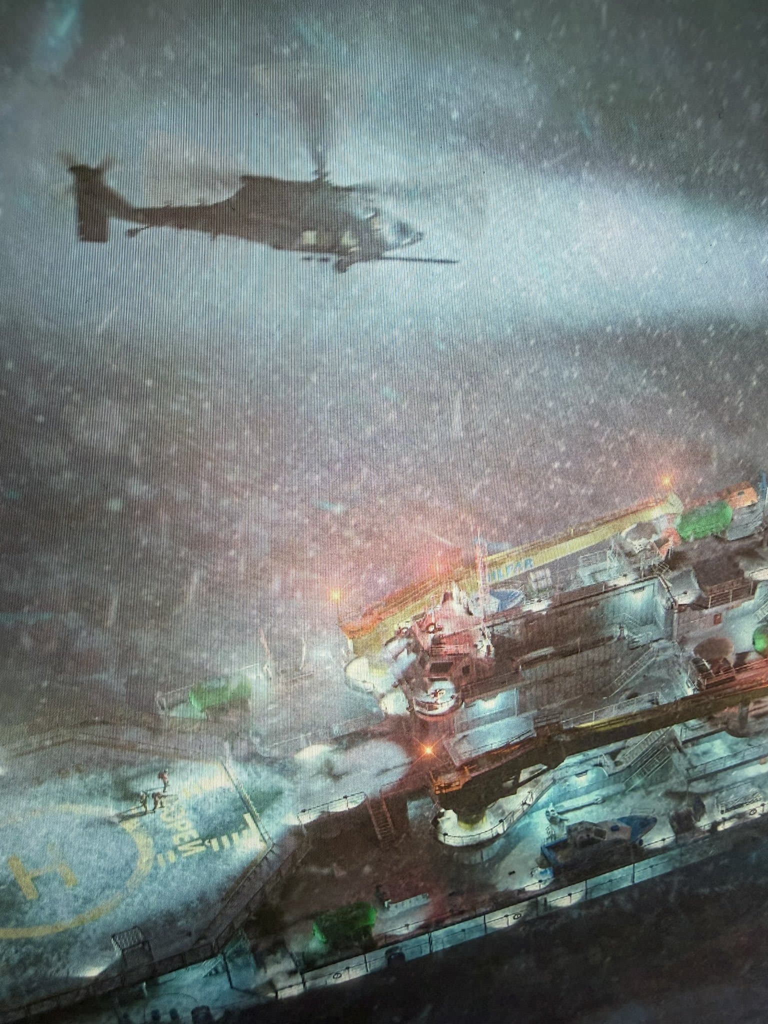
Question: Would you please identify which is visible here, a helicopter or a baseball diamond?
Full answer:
Of the two, only a helicopter appears.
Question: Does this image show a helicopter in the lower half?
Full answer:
No, no helicopter can be made out in the lower half.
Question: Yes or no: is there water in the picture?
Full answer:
Yes, some water is visible.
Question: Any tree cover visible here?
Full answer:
No, there is no tree cover in the image.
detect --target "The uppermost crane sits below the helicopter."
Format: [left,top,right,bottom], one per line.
[316,484,702,709]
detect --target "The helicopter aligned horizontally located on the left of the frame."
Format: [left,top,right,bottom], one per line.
[51,92,511,270]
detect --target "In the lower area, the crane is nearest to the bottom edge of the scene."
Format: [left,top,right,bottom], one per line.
[421,658,768,839]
